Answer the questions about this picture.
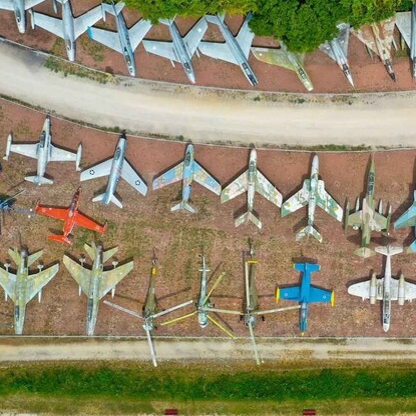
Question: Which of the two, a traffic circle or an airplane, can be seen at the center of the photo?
airplane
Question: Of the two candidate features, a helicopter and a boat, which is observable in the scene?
helicopter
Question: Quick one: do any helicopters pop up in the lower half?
Yes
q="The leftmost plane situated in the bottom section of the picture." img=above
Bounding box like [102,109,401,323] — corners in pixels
[0,248,60,336]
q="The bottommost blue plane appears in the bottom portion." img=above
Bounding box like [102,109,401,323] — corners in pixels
[276,261,335,335]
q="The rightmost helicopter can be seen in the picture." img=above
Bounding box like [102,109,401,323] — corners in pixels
[205,246,300,363]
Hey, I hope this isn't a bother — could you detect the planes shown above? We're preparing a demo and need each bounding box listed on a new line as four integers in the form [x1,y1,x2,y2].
[30,0,105,62]
[5,117,81,186]
[197,7,261,86]
[220,145,281,228]
[35,187,108,239]
[0,0,42,33]
[350,247,416,332]
[78,132,145,208]
[343,157,390,259]
[350,5,395,81]
[0,248,60,336]
[313,7,353,84]
[252,22,312,92]
[276,261,335,335]
[394,0,416,81]
[280,155,341,242]
[152,142,220,213]
[88,0,153,78]
[144,13,209,84]
[64,243,133,336]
